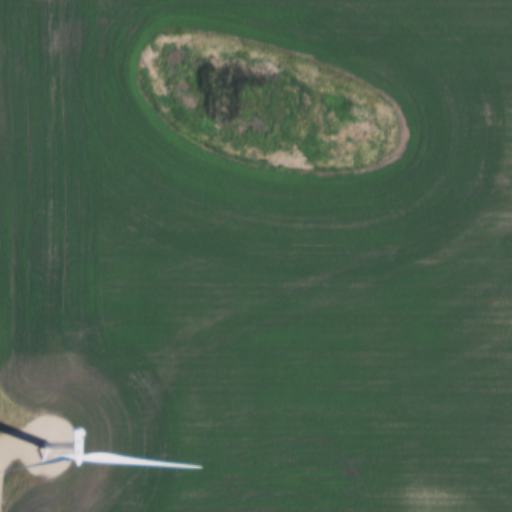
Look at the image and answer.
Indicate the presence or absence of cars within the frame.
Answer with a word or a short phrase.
No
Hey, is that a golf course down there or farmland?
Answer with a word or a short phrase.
farmland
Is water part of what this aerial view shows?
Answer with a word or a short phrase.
No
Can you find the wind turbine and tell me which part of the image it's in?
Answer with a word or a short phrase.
bottom left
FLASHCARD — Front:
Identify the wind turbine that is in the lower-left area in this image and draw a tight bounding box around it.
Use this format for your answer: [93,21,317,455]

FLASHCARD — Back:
[0,427,202,474]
